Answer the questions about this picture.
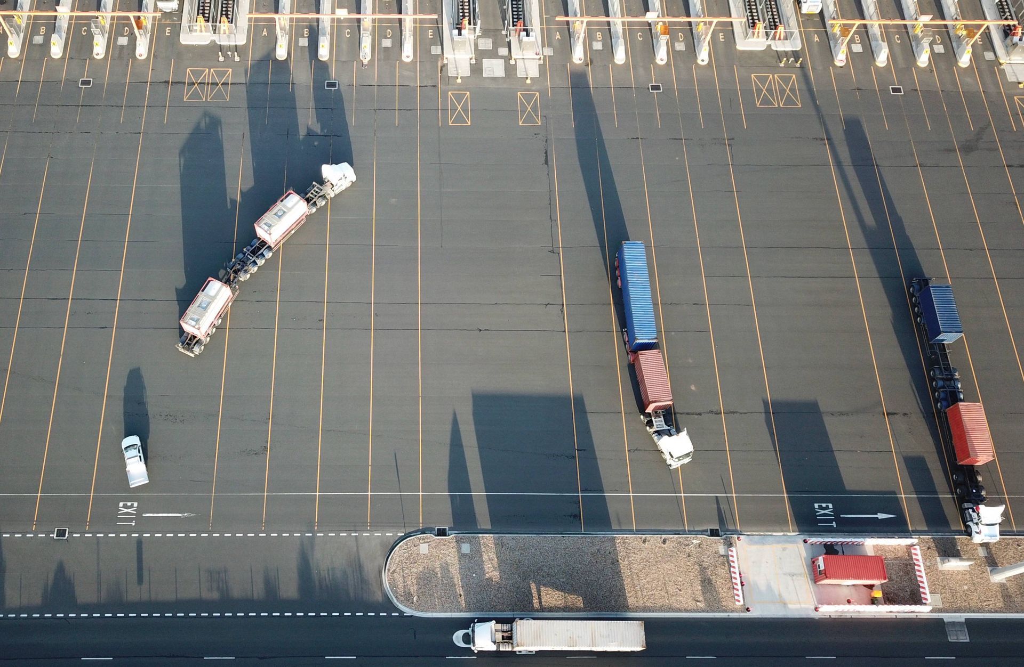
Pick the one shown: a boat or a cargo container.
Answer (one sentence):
This aerial view contains a cargo container.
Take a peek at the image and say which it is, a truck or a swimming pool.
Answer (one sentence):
Visible in the photo is a truck.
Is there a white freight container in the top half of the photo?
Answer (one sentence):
Yes, you'll find a white freight container in the top half of the photo.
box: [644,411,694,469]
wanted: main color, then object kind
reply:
white truck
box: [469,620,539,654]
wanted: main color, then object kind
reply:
white truck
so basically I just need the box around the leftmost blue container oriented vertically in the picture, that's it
[618,241,659,350]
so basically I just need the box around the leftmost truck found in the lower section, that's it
[123,438,149,489]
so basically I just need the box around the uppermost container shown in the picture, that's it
[255,190,308,247]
